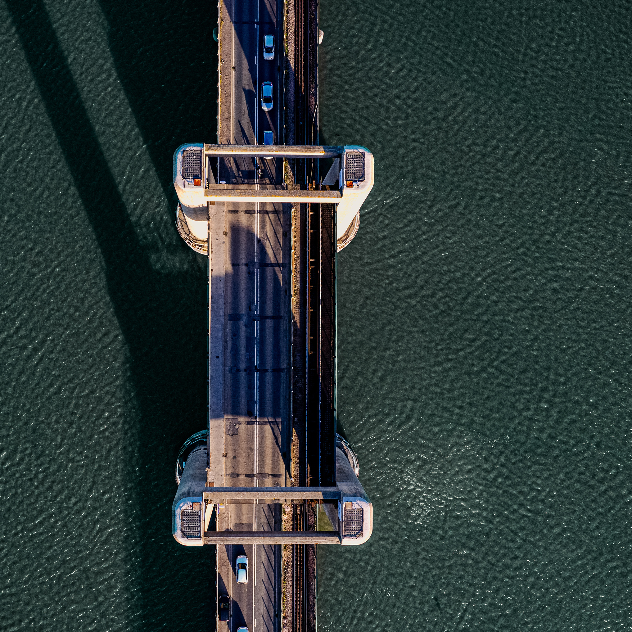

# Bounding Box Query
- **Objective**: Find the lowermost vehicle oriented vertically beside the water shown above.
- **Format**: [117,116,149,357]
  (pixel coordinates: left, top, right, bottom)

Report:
[218,594,230,623]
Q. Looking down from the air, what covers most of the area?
water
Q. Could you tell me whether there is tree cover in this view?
No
